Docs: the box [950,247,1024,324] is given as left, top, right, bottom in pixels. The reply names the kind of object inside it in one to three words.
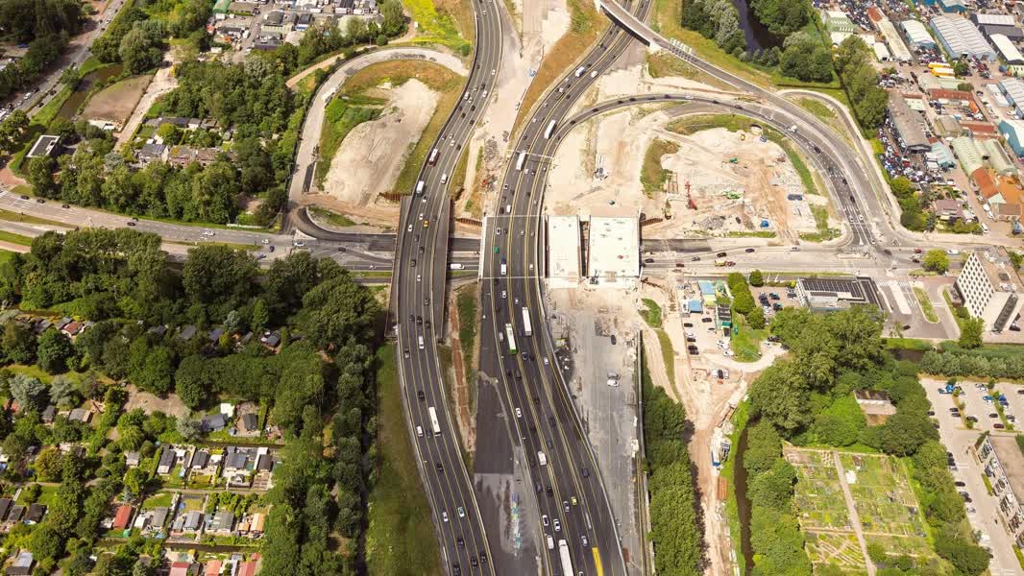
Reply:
building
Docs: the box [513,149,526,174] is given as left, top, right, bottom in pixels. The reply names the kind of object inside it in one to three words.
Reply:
vehicle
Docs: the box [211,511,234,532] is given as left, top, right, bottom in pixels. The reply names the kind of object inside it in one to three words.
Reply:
house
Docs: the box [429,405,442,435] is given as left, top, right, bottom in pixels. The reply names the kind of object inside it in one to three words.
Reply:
vehicle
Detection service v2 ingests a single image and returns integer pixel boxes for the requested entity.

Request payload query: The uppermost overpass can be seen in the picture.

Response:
[593,0,673,53]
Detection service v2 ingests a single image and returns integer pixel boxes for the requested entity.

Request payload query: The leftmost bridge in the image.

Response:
[384,196,451,340]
